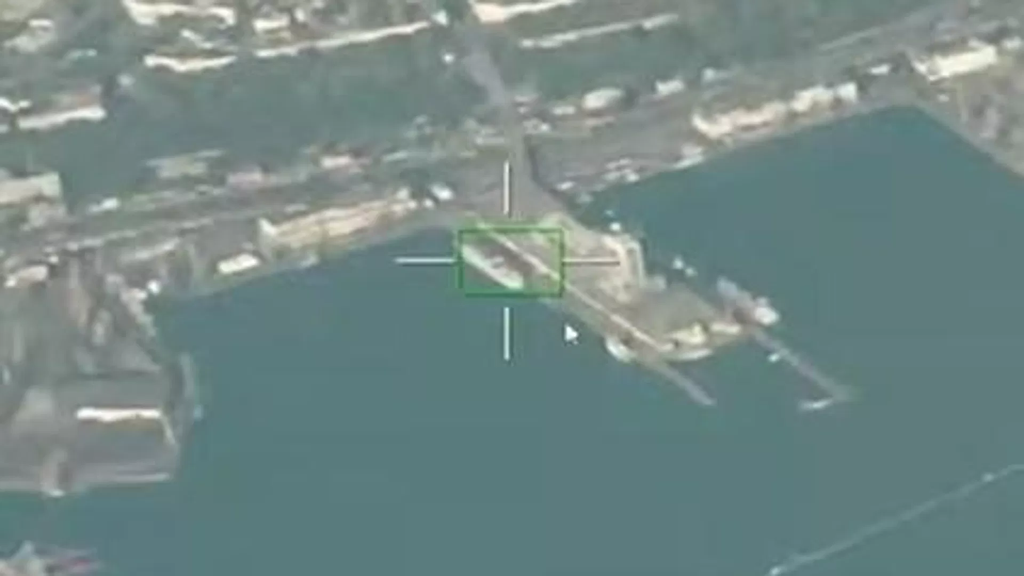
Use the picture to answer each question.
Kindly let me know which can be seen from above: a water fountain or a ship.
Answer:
ship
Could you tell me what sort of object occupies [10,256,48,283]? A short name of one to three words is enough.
building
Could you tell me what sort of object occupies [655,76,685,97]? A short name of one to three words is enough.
house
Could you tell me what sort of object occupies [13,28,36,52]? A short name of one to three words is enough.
house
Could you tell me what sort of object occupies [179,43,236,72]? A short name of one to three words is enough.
shed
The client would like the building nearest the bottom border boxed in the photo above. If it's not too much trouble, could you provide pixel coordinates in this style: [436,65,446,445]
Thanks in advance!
[77,374,164,422]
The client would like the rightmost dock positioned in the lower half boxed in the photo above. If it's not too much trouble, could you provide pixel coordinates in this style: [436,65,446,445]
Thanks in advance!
[790,350,851,398]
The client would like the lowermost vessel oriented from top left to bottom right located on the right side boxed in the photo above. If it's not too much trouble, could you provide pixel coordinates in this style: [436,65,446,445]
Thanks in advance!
[606,336,639,369]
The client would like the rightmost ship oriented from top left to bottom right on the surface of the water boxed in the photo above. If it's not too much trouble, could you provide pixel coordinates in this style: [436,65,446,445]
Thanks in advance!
[715,279,783,328]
